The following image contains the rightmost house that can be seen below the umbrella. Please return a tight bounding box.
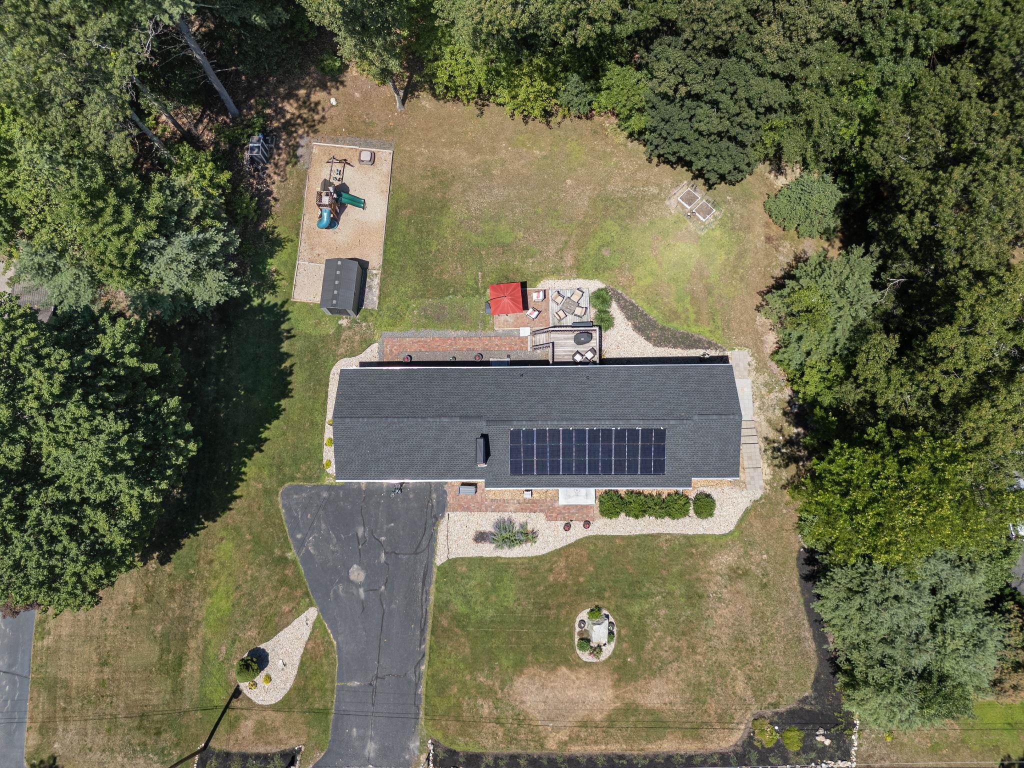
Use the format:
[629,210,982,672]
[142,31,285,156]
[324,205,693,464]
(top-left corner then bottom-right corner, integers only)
[332,362,742,491]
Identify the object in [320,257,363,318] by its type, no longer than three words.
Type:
shed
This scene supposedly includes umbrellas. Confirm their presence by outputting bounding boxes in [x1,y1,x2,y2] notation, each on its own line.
[485,282,523,315]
